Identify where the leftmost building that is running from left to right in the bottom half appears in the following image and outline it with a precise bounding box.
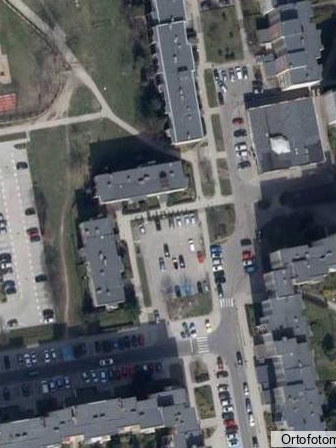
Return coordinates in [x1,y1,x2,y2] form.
[0,388,199,448]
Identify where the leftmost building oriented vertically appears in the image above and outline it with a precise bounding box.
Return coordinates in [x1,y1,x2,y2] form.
[79,216,127,311]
